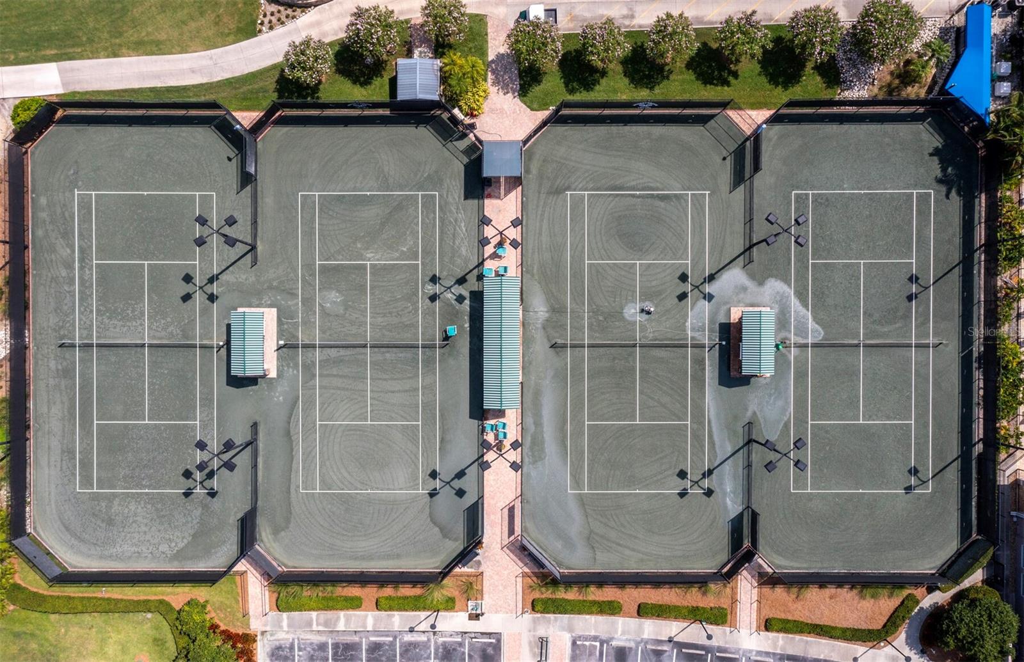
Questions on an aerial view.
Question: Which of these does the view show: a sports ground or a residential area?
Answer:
sports ground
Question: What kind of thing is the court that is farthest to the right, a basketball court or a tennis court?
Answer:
tennis court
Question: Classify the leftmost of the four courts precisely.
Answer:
tennis court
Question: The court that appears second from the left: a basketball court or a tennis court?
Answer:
tennis court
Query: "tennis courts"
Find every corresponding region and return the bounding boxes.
[748,108,981,574]
[520,110,749,573]
[257,109,485,572]
[29,110,257,571]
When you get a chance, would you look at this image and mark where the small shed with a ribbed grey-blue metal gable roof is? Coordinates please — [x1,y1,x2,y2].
[398,56,441,102]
